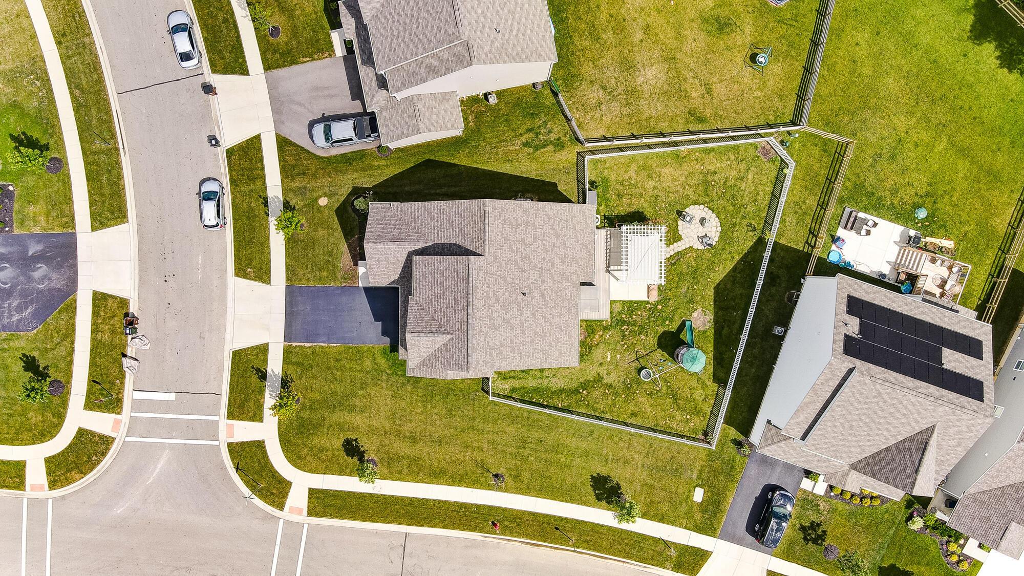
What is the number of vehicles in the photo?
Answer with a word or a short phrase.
4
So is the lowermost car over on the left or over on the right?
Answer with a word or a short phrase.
right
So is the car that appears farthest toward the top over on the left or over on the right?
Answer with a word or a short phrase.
left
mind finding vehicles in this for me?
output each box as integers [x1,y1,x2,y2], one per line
[311,116,381,147]
[197,179,228,230]
[167,10,202,69]
[755,485,796,549]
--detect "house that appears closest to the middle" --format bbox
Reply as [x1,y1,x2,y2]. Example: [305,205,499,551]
[364,199,597,379]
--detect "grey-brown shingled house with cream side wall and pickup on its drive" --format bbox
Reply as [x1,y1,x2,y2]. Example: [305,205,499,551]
[338,0,558,149]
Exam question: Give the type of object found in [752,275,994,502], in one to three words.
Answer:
house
